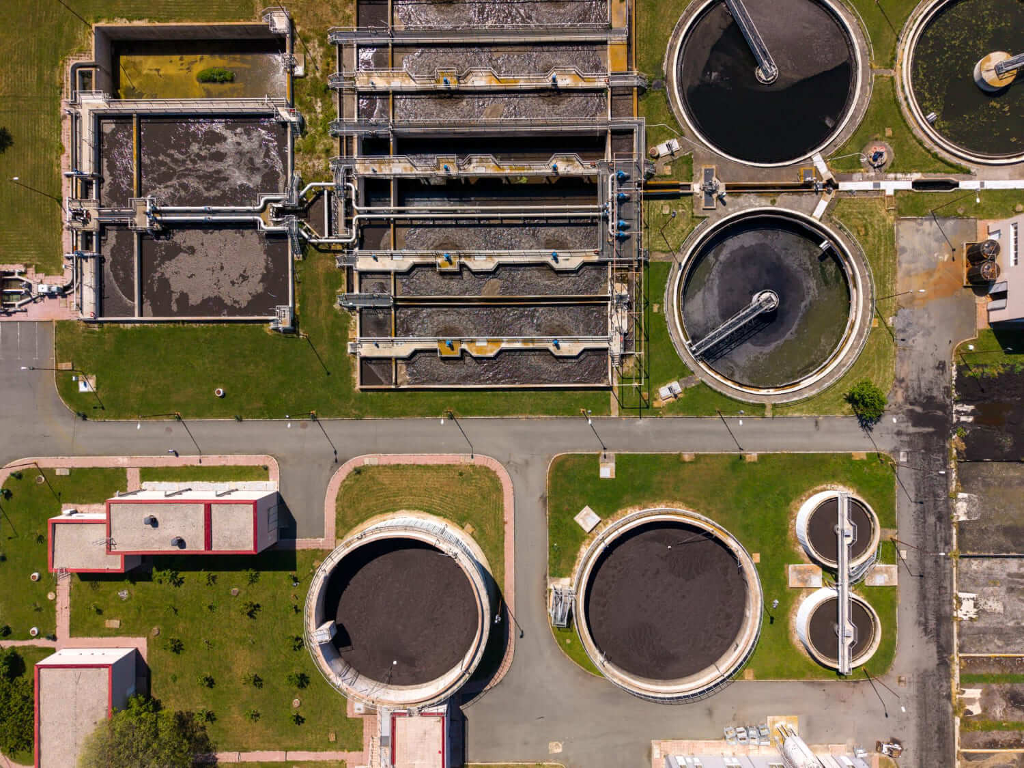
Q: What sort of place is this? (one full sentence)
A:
It's an industrial area.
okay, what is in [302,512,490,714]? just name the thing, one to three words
storage tank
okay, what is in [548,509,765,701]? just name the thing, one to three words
storage tank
